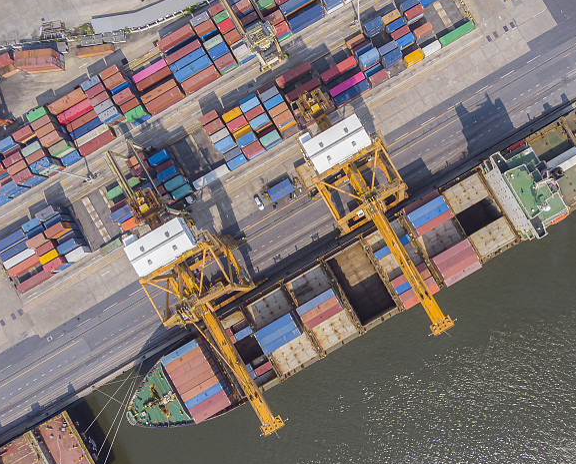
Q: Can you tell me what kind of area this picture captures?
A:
port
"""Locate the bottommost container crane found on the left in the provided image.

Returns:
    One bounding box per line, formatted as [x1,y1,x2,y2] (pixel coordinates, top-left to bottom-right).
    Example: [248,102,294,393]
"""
[116,184,281,434]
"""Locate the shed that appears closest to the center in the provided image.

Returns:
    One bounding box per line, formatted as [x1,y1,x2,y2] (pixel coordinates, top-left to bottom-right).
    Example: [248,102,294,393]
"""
[267,179,295,202]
